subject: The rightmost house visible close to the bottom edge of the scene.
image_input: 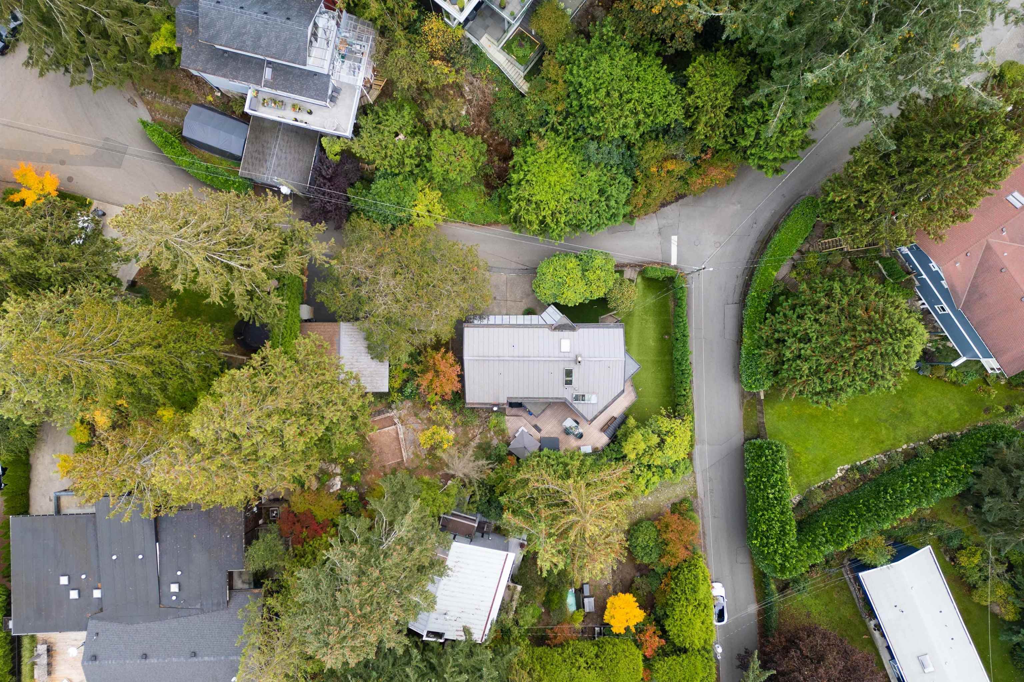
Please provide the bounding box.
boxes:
[845,540,992,682]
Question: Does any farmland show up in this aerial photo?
No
